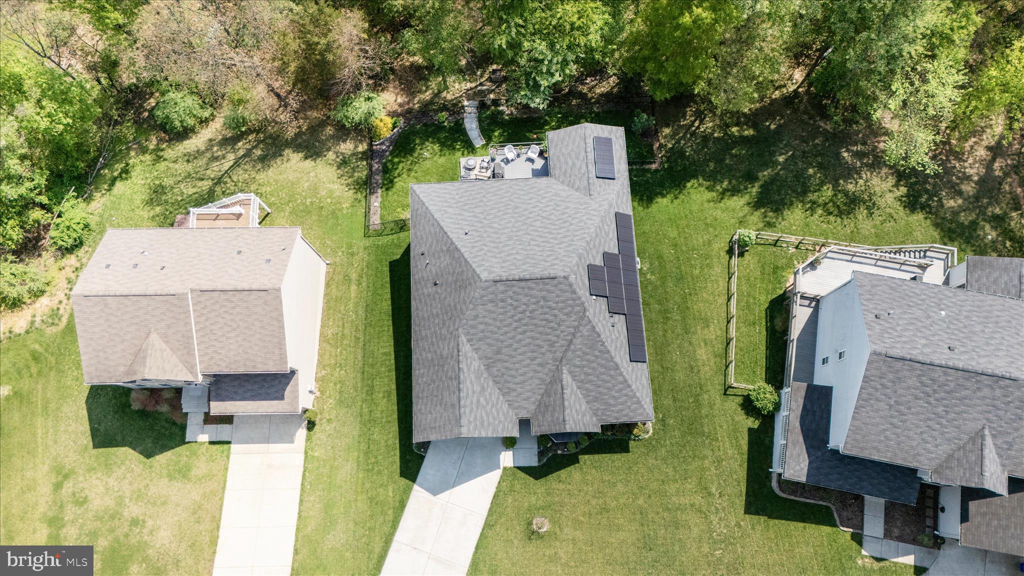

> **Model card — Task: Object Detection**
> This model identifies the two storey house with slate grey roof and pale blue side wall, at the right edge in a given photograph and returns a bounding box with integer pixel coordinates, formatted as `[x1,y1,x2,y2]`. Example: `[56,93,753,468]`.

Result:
[768,256,1024,557]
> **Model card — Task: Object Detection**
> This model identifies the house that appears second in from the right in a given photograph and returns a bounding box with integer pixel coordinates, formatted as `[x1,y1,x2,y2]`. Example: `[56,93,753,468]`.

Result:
[409,123,656,442]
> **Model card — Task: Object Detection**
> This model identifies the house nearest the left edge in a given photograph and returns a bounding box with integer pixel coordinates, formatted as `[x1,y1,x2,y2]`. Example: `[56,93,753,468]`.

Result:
[72,226,333,415]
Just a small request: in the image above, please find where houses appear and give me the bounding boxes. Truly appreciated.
[768,256,1024,557]
[72,226,333,415]
[409,123,656,442]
